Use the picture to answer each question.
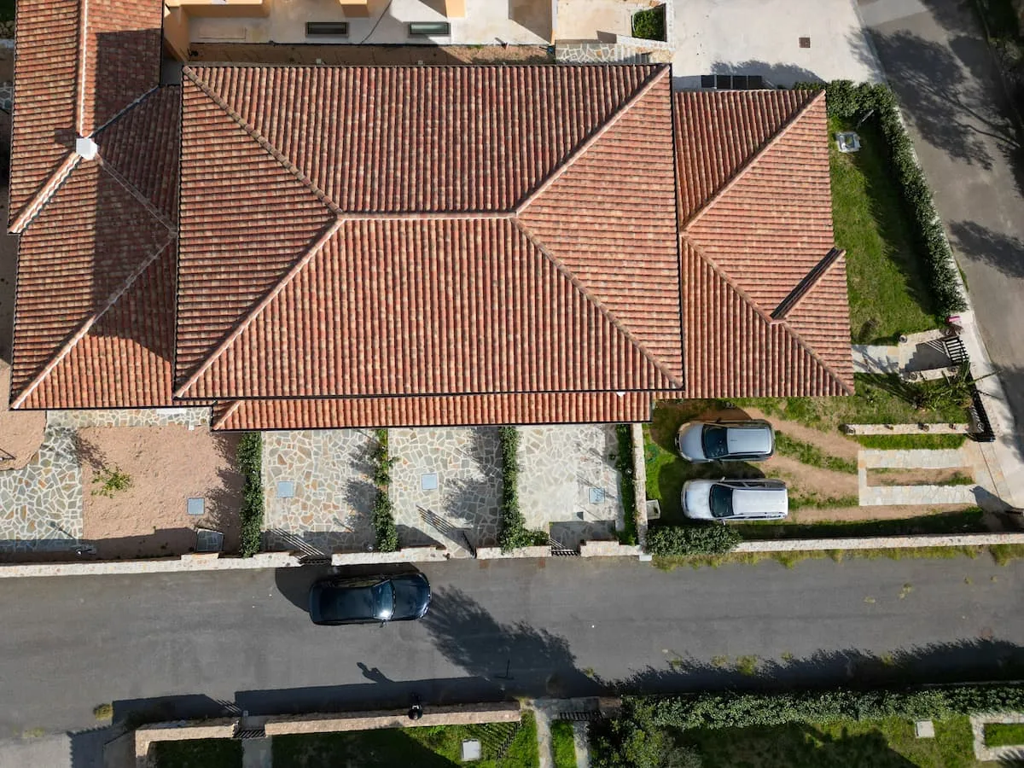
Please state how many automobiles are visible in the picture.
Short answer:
3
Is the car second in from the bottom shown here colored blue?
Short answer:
No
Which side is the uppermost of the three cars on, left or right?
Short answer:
right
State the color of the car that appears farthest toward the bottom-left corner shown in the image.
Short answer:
black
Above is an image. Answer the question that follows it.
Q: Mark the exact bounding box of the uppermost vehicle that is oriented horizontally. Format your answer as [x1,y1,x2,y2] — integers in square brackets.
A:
[675,416,778,467]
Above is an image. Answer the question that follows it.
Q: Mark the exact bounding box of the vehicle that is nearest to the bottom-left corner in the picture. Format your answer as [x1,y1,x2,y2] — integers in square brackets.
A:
[310,572,433,629]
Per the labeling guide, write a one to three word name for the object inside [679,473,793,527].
car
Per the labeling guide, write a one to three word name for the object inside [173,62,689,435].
house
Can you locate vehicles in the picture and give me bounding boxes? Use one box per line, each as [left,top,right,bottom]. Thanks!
[310,572,433,629]
[675,416,778,467]
[679,473,793,527]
